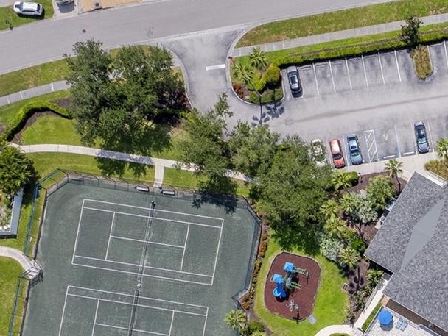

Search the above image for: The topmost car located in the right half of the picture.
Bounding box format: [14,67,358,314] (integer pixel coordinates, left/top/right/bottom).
[287,64,302,94]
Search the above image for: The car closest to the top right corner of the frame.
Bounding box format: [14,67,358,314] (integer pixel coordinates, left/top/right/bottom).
[415,122,428,153]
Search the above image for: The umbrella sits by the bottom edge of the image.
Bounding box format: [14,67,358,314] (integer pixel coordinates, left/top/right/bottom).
[378,308,393,323]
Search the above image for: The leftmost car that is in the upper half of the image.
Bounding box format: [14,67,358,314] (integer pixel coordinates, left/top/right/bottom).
[15,0,45,17]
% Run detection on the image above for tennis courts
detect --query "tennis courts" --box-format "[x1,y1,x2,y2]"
[20,273,242,336]
[36,182,260,297]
